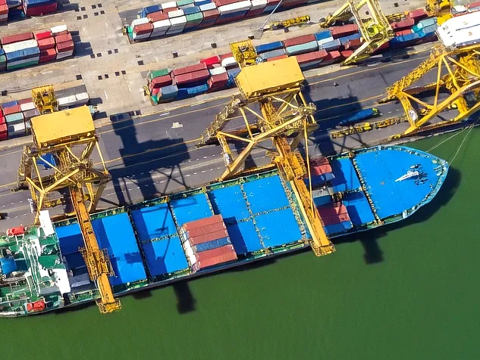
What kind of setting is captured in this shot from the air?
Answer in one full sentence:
It's a port.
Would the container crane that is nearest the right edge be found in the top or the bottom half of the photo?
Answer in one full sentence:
The top half of the photo is where the container crane that is nearest the right edge is.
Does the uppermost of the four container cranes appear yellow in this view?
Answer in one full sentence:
Yes, the uppermost of the four container cranes is indeed yellow.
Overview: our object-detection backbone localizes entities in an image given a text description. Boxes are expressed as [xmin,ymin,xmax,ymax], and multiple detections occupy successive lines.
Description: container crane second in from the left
[201,38,342,262]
